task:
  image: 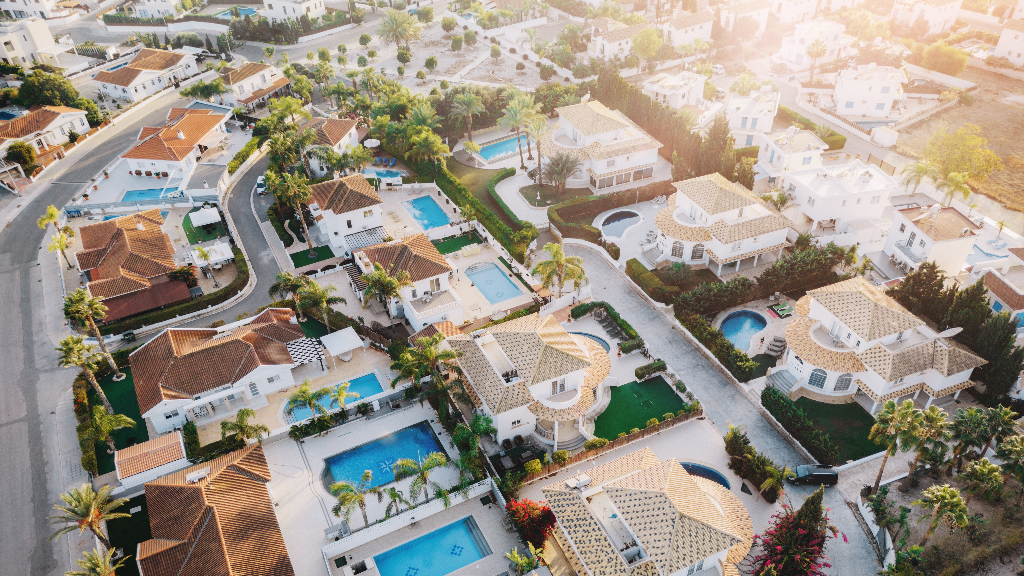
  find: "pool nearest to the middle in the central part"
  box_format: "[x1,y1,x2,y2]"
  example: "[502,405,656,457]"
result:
[462,260,527,306]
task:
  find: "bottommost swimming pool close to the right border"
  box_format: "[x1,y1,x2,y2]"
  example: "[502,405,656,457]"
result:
[966,244,1009,264]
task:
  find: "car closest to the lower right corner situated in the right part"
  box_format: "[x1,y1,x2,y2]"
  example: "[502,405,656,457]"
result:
[787,461,844,488]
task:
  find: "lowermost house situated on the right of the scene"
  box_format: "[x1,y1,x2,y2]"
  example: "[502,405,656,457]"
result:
[536,444,756,576]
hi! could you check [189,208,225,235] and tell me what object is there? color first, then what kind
white gazebo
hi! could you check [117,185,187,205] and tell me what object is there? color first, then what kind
blue swimming pool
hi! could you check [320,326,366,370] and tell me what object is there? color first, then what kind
white gazebo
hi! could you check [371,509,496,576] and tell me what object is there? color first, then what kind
blue swimming pool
